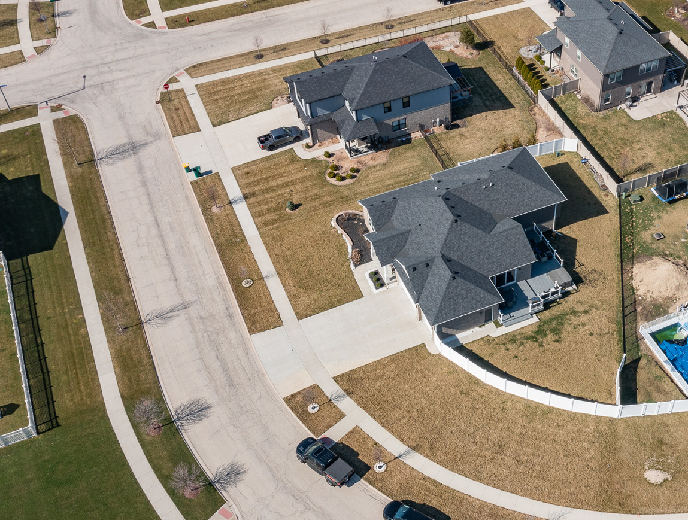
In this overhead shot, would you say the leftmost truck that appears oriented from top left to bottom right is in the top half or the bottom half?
bottom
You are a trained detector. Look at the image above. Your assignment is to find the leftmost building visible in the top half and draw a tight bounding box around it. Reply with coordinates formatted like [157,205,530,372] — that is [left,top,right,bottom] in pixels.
[290,40,455,161]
